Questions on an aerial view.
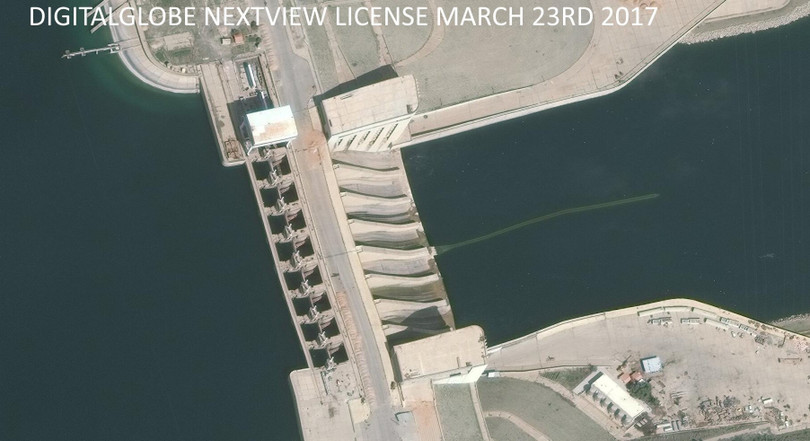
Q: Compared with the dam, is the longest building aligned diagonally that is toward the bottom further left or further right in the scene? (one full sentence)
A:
The dam has the longest building aligned diagonally that is toward the bottom on its right side.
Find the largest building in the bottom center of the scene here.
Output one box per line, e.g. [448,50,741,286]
[390,325,489,387]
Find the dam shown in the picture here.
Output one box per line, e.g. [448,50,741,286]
[201,50,454,441]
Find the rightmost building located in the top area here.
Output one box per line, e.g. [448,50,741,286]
[320,75,421,154]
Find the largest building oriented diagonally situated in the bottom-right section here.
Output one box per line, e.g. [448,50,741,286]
[588,373,644,423]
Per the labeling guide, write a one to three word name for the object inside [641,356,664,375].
shed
